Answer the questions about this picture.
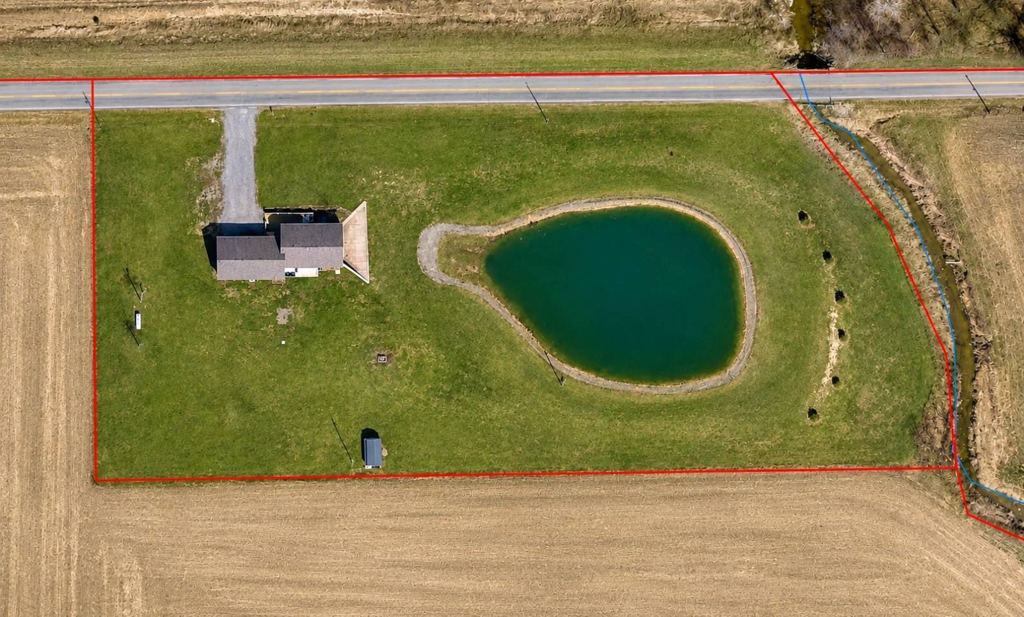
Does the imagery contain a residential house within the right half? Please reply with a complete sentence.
No, I can find no residential house within the right half.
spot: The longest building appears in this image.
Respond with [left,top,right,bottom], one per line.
[216,213,343,284]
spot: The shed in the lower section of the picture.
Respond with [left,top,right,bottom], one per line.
[365,439,382,469]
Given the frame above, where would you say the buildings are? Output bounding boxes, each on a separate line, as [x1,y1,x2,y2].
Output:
[365,439,382,469]
[216,213,343,284]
